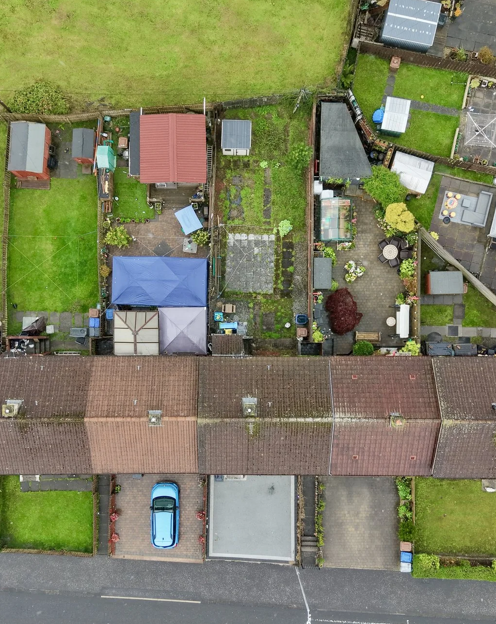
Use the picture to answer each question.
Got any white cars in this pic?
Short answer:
No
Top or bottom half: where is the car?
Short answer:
bottom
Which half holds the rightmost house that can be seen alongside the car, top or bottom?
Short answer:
bottom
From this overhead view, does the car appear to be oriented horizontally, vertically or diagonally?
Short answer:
vertically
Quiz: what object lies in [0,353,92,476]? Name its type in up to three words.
house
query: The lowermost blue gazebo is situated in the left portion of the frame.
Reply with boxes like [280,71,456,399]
[112,256,208,307]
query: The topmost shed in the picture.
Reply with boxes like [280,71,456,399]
[379,0,442,54]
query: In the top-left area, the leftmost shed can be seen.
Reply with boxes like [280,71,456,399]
[8,120,51,176]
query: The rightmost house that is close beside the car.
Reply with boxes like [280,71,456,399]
[198,354,336,477]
